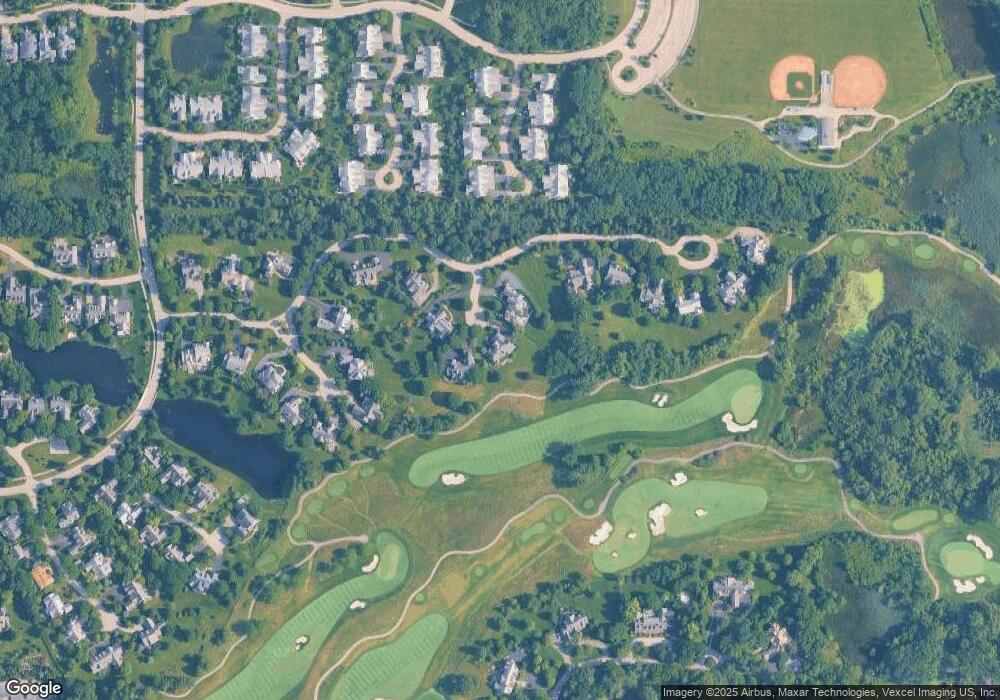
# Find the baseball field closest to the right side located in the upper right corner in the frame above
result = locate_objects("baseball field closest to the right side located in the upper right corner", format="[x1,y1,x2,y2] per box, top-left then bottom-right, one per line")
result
[833,55,887,107]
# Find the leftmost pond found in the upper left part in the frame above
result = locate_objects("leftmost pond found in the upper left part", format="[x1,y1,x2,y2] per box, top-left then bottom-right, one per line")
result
[88,35,122,137]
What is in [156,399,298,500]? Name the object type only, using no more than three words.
pond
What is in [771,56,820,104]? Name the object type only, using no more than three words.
baseball field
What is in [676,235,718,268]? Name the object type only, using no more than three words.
roundabout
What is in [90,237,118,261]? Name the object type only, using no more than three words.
house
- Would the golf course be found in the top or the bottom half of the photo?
bottom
